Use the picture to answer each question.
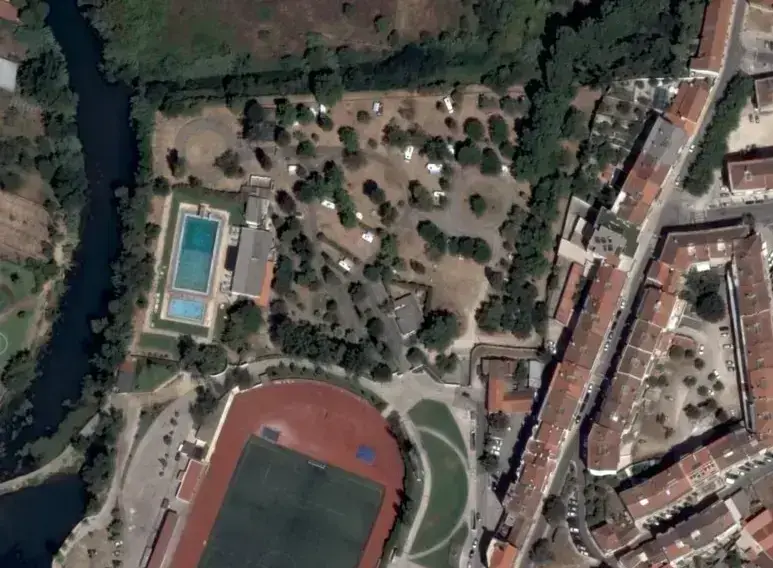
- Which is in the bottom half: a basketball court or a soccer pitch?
soccer pitch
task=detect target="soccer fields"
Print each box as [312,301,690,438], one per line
[202,437,384,568]
[0,316,30,373]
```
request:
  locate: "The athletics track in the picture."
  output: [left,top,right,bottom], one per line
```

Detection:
[171,380,405,568]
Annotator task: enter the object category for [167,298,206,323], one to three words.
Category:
swimming pool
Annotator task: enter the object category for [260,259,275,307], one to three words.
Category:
building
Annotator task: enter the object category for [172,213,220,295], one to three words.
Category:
swimming pool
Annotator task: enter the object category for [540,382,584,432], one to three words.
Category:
house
